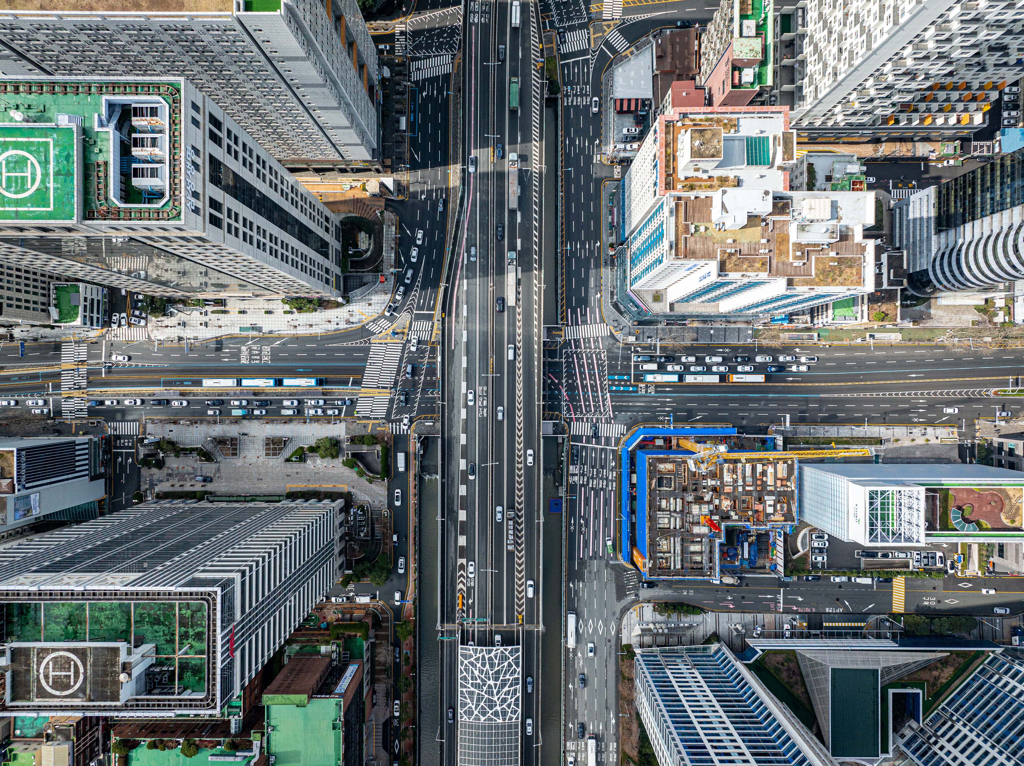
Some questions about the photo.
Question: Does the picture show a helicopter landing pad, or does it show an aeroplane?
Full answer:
The image shows a helicopter landing pad.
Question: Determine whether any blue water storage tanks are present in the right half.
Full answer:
No, I can find no blue water storage tank in the right half.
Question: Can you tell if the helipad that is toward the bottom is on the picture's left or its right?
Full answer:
The helipad that is toward the bottom is on the left side of the image.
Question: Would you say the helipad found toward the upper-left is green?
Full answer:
Yes, the helipad found toward the upper-left appears green.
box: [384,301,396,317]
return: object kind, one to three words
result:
vehicle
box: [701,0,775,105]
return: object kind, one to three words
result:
building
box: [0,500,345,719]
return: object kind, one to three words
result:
building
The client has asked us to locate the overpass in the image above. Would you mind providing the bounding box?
[438,0,547,766]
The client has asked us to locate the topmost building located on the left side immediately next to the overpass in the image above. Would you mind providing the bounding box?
[0,0,383,172]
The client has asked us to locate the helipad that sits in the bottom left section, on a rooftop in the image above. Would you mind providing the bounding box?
[4,641,129,706]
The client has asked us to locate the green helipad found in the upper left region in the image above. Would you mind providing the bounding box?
[0,123,89,227]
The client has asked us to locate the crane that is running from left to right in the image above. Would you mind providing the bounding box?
[673,437,874,460]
